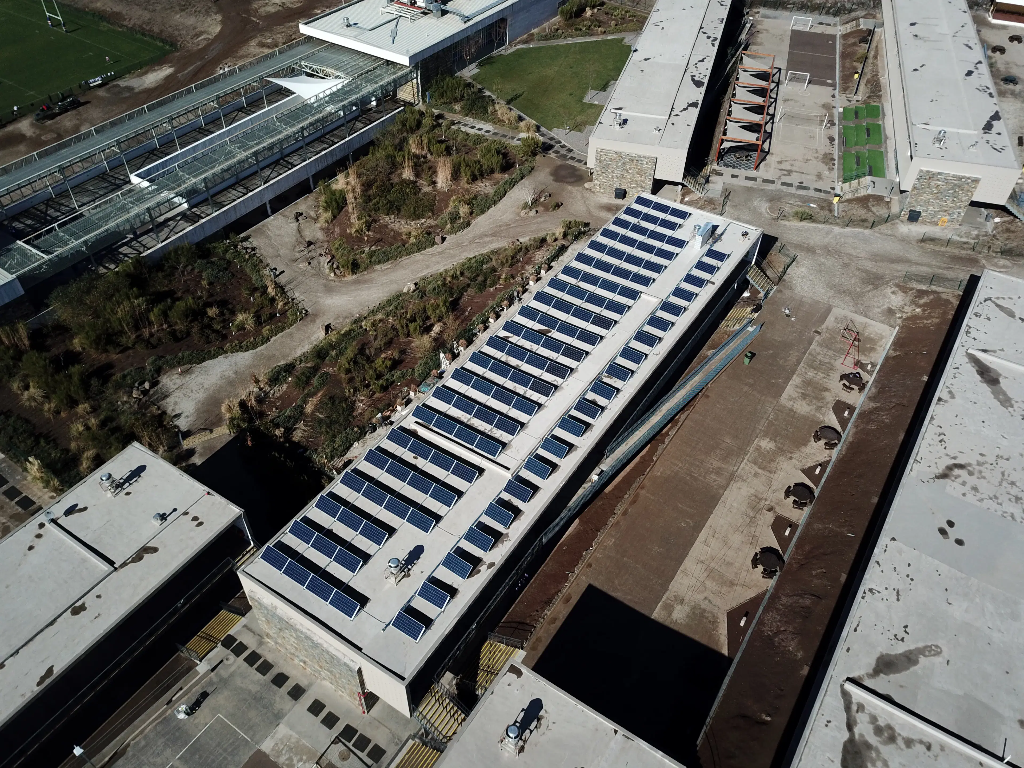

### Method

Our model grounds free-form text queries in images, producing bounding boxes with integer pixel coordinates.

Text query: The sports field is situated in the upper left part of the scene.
[0,0,173,114]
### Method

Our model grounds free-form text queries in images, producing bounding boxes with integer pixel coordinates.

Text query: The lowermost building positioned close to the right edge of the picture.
[789,269,1024,768]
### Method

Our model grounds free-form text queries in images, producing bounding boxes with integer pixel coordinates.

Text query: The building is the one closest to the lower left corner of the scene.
[0,442,256,768]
